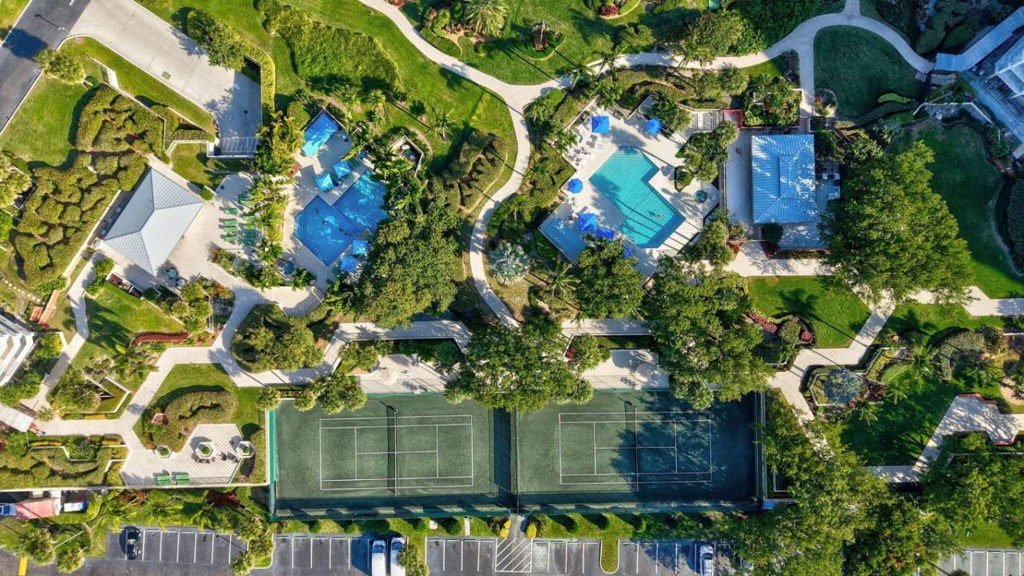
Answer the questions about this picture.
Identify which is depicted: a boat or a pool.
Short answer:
pool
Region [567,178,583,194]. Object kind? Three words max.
umbrella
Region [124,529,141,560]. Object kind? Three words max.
car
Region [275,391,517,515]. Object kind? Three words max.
tennis court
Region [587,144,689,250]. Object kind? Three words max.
swimming pool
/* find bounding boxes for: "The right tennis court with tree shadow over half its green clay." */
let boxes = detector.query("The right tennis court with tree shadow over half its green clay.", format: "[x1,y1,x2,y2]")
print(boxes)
[517,386,763,514]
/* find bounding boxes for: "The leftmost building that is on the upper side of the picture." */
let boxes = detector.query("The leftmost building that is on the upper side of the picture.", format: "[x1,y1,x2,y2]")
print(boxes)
[104,168,208,276]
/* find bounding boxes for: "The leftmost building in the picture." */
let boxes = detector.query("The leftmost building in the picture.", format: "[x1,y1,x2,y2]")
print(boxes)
[0,313,35,385]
